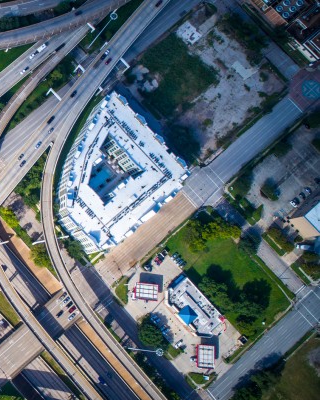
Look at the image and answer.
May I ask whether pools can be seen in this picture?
Yes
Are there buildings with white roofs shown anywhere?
Yes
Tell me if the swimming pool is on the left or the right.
left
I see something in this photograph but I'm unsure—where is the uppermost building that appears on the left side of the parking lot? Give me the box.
[62,92,189,252]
